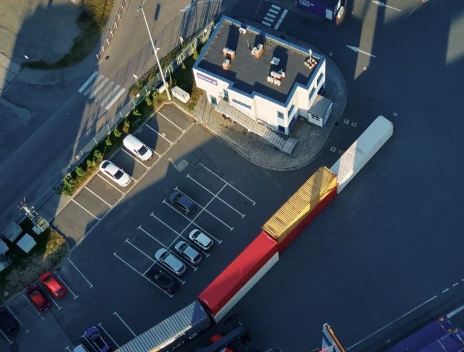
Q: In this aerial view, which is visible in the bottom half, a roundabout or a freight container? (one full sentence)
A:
Looking in the bottom half, you will find a freight container.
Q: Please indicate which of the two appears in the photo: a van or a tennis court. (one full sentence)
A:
Looking from above, you can make out a van.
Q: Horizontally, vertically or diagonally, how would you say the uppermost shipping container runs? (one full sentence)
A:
I'd say the uppermost shipping container is aligned diagonally in the picture.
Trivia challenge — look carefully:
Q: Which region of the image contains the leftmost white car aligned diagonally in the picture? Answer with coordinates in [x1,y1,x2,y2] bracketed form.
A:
[100,160,130,187]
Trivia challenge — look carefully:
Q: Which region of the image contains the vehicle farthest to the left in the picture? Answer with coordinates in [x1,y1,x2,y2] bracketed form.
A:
[0,308,20,338]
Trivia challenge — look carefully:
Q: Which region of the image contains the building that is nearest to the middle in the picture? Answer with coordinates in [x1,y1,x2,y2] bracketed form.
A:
[191,16,336,156]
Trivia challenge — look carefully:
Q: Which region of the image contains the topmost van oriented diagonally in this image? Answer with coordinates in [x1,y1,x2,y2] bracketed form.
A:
[122,131,153,162]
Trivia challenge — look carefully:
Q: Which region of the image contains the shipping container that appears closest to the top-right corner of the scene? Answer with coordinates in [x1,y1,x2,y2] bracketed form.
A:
[324,110,389,183]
